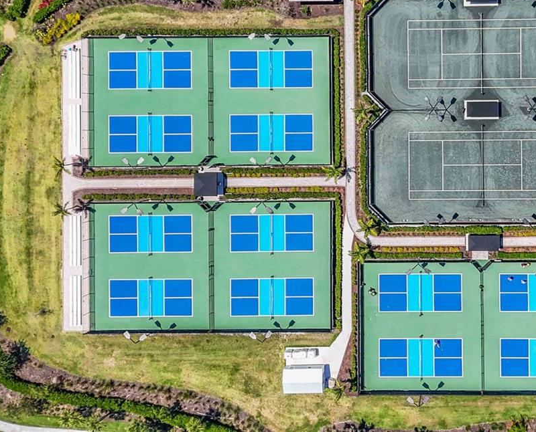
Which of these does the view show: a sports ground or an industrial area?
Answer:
sports ground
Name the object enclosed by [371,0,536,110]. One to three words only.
tennis court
